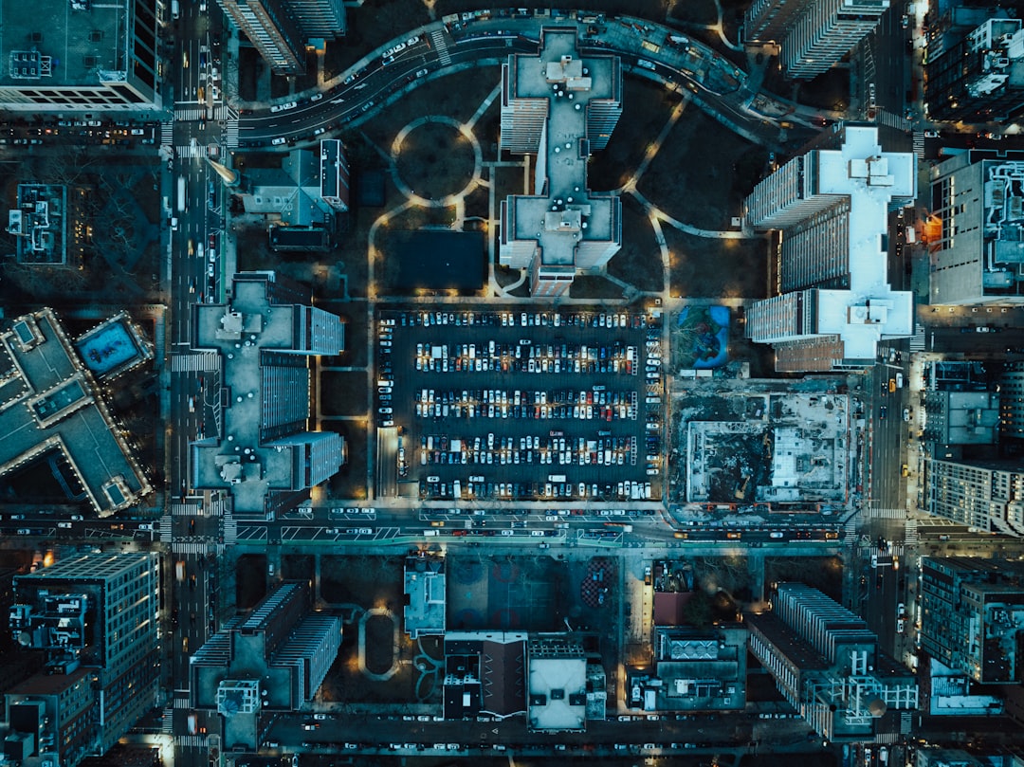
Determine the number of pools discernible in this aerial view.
1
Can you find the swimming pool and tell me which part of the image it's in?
left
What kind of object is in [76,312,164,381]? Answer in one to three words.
building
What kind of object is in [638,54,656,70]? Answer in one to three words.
vehicle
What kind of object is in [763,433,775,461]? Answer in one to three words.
vehicle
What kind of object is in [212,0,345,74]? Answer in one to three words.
building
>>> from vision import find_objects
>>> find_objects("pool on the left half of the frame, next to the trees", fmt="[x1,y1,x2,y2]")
[81,322,137,375]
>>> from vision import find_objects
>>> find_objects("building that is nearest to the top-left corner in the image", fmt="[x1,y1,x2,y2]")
[0,0,161,109]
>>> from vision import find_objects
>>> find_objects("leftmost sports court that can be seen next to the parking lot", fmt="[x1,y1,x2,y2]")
[388,231,484,289]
